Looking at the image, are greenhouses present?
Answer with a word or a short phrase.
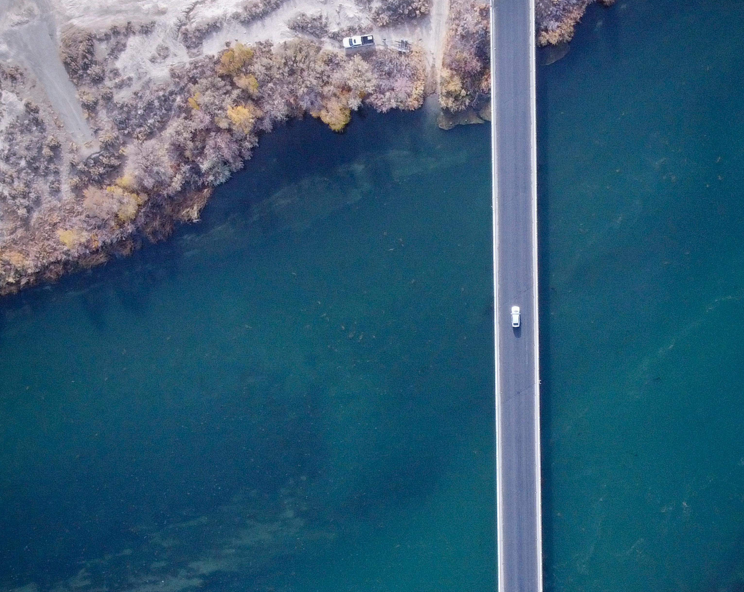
No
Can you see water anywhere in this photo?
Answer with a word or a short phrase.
Yes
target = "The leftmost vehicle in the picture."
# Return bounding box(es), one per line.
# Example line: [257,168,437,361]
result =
[344,35,374,48]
